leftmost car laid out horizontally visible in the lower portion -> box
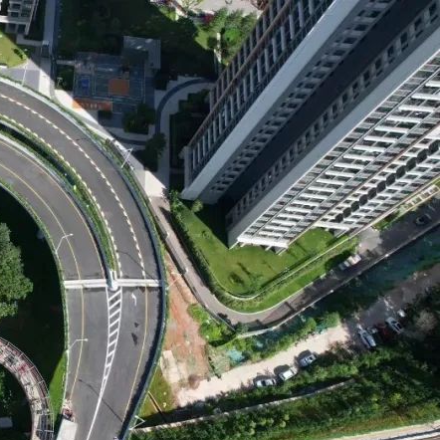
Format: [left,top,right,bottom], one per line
[254,375,278,387]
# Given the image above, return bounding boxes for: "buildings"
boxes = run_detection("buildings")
[187,0,440,252]
[126,27,165,63]
[0,0,39,27]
